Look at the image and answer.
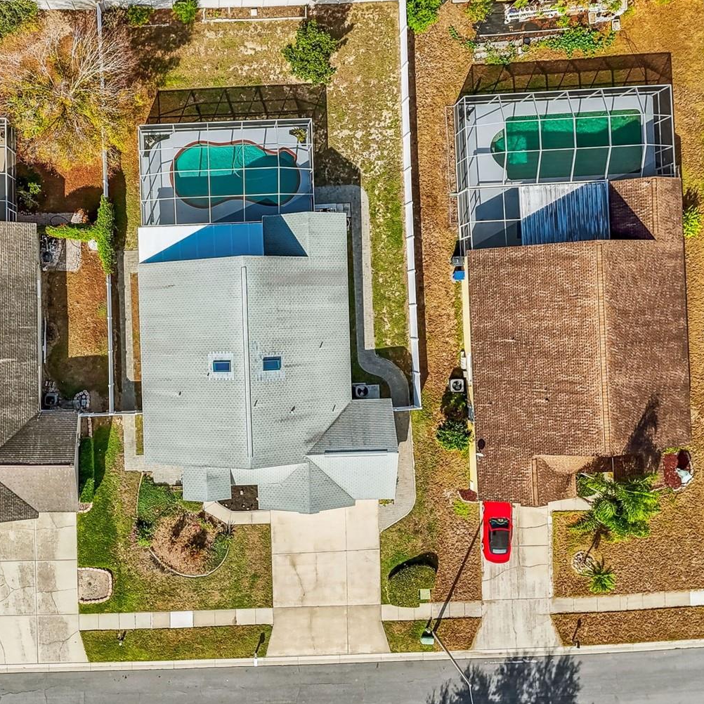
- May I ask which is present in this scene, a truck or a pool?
pool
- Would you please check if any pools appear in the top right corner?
Yes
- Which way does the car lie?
up and down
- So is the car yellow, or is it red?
red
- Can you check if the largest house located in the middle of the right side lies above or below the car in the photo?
above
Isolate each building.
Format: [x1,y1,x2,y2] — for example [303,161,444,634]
[137,212,398,513]
[457,177,690,507]
[0,221,81,524]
